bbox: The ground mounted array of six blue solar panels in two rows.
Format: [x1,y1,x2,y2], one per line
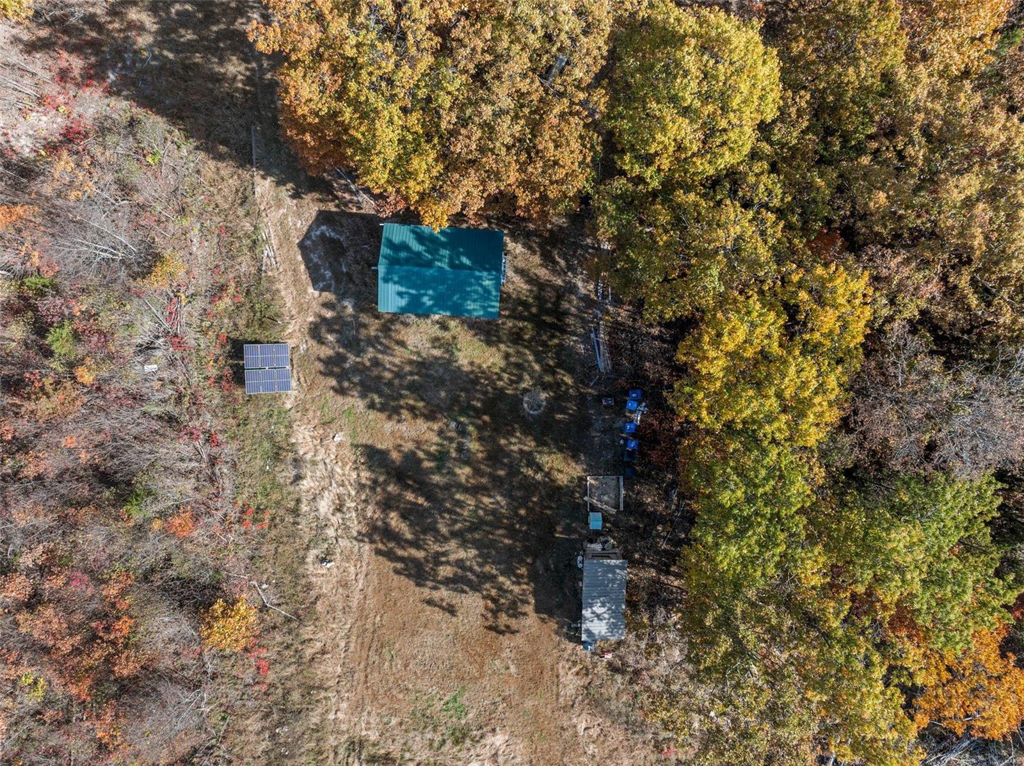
[243,344,292,393]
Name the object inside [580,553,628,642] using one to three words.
shed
